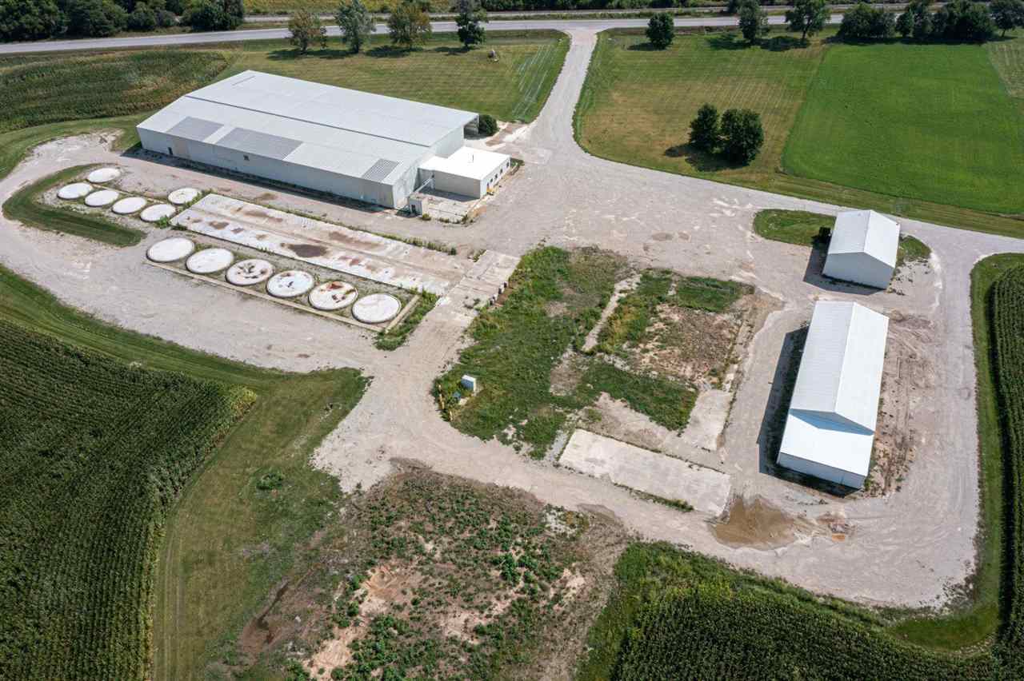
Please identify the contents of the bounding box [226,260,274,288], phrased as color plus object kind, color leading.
white storage tank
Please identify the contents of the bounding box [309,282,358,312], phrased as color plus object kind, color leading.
white storage tank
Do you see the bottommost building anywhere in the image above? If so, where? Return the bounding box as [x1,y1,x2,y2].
[776,300,889,489]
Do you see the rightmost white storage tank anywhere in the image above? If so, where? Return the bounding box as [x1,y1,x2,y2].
[352,294,401,326]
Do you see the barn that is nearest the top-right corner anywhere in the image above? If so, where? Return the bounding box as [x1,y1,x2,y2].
[822,209,900,289]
